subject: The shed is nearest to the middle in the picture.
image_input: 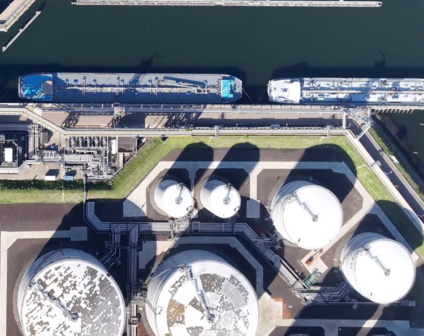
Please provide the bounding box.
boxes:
[116,136,137,153]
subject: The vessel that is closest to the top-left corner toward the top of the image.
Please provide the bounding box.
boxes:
[18,72,243,103]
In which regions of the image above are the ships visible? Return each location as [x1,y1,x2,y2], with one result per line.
[18,72,243,103]
[266,77,424,105]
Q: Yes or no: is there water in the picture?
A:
Yes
